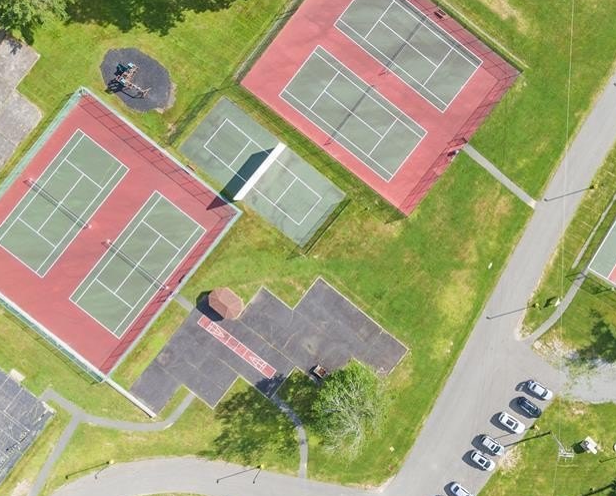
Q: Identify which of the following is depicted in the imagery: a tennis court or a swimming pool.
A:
tennis court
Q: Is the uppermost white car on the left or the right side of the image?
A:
right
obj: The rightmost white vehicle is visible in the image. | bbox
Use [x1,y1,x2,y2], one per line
[526,379,553,402]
